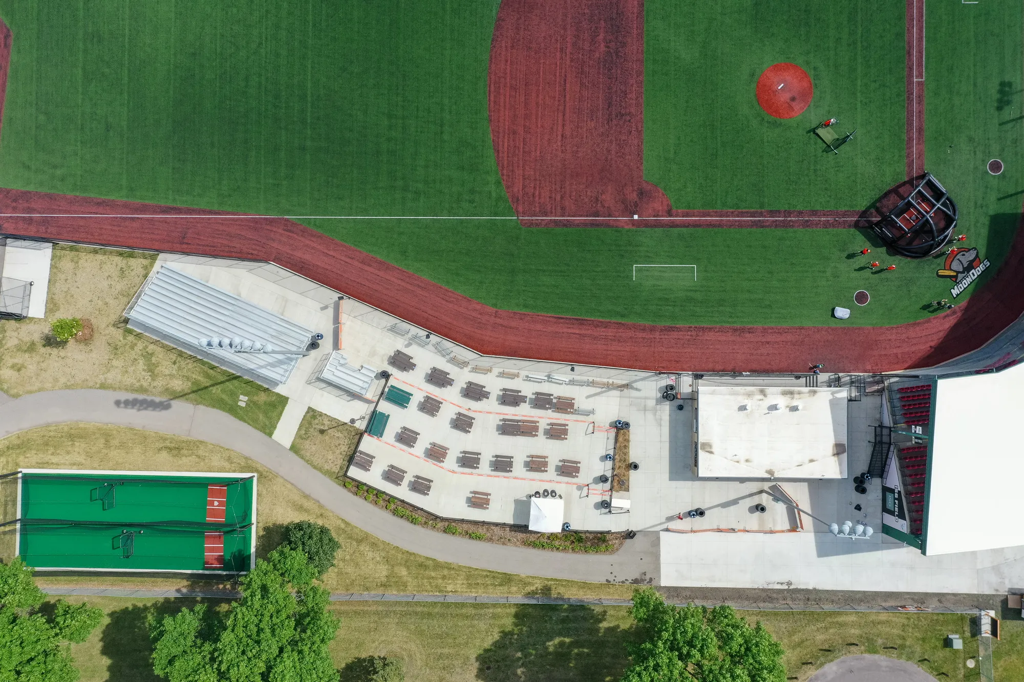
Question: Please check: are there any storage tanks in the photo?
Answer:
No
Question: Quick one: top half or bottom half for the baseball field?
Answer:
top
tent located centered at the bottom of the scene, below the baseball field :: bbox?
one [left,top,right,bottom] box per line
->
[528,493,564,532]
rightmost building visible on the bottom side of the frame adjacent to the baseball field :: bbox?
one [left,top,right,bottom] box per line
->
[692,386,848,481]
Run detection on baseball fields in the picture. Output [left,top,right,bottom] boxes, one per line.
[0,0,1024,374]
